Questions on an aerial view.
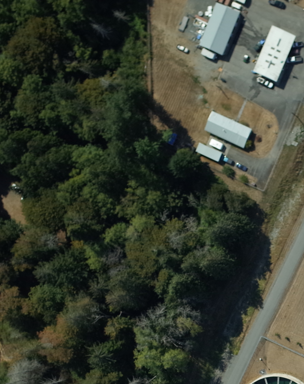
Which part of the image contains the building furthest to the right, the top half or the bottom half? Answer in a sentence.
Seen from above, the building furthest to the right lies in the top half of the view.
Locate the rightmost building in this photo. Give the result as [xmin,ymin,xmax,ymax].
[253,26,297,81]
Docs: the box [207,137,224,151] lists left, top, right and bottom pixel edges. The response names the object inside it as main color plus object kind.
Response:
white vehicle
